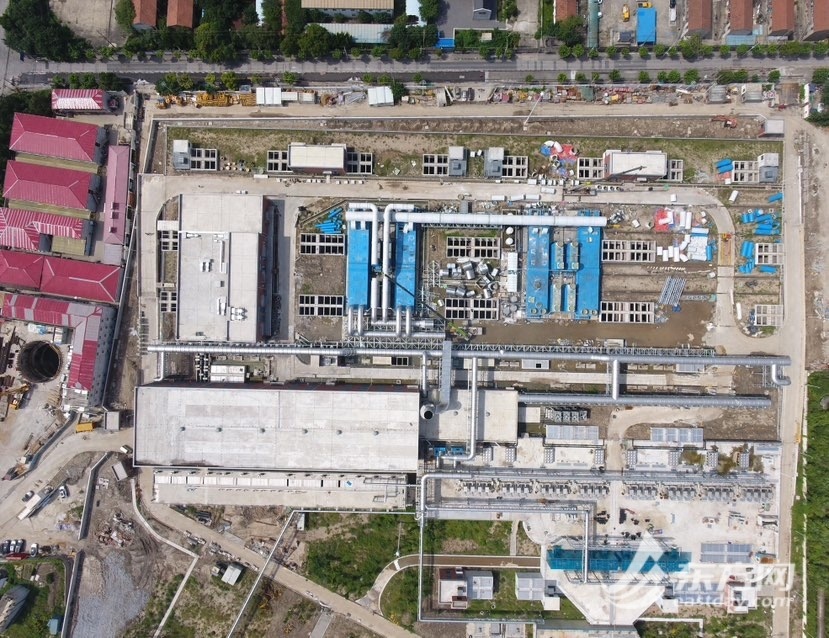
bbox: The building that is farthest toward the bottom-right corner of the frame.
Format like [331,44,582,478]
[718,571,759,613]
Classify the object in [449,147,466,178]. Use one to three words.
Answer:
house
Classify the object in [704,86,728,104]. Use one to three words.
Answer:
shed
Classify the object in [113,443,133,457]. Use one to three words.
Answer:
vehicle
